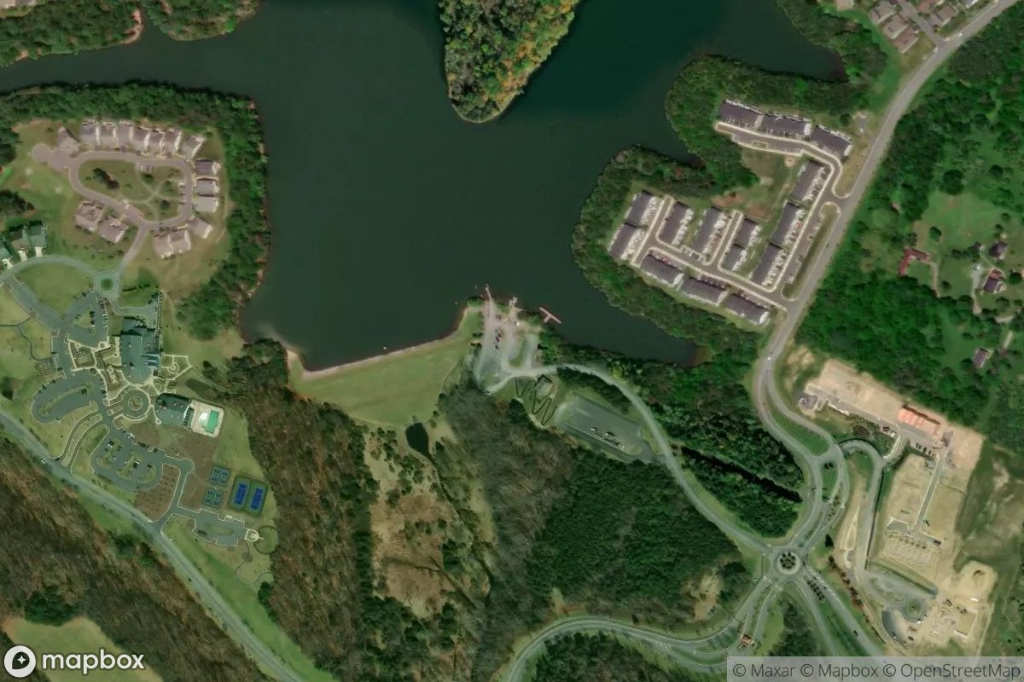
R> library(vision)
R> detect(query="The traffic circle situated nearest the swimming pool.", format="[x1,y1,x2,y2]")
[119,390,147,418]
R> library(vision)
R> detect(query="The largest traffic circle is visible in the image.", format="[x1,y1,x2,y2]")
[768,545,806,582]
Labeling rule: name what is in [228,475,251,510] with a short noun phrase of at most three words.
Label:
tennis court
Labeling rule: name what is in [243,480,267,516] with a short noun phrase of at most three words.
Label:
tennis court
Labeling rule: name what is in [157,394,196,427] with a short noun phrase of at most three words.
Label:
building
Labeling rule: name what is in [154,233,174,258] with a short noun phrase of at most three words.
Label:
house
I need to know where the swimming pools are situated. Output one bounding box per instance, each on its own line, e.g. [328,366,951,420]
[192,400,224,437]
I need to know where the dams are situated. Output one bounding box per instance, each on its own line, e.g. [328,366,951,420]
[299,310,477,425]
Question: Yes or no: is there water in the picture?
Yes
